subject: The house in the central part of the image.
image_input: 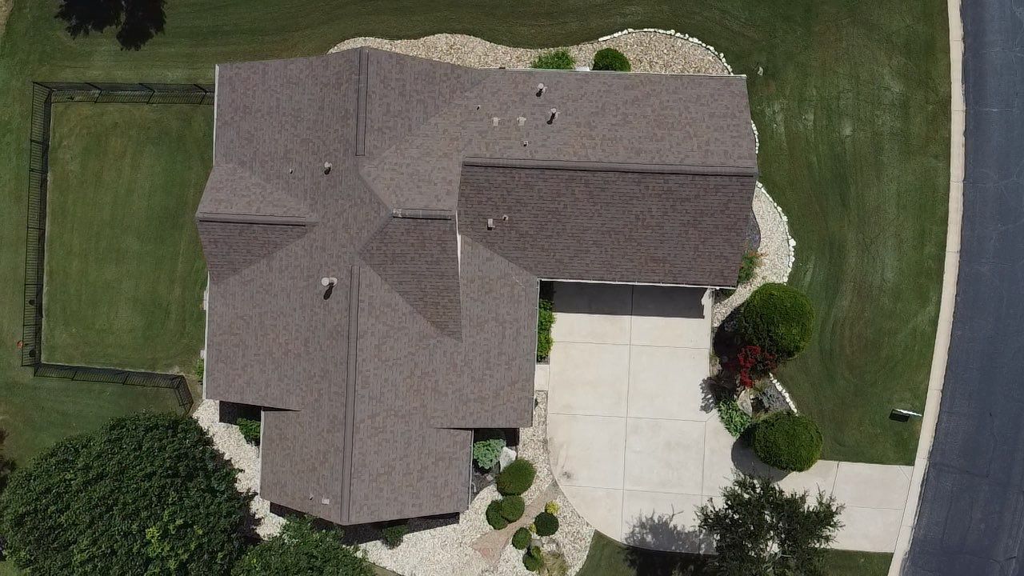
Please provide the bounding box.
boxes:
[195,46,762,525]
